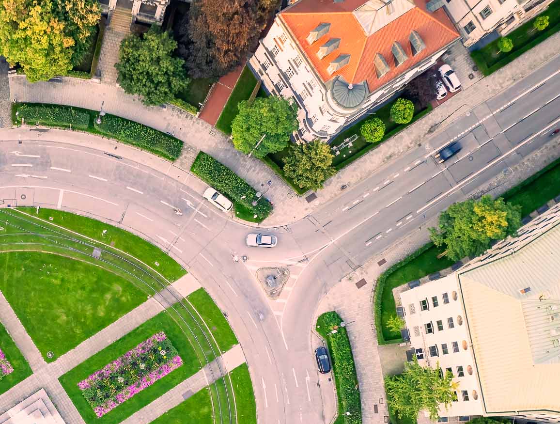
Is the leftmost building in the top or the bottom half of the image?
top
